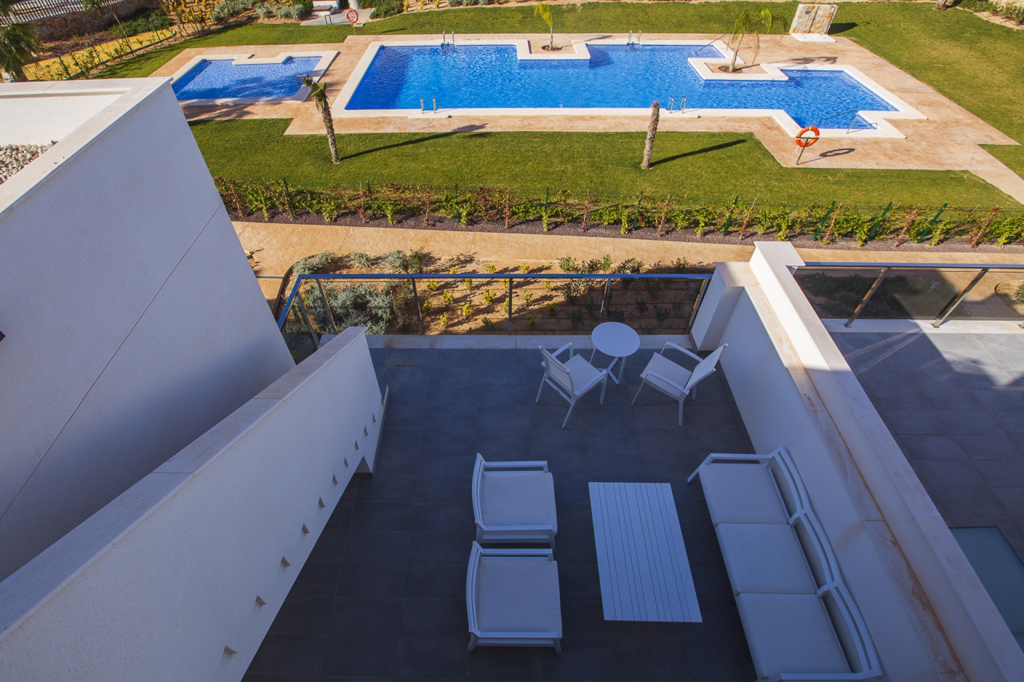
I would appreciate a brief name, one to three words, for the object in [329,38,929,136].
swimming pool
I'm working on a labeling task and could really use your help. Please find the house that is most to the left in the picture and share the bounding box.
[0,77,295,598]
